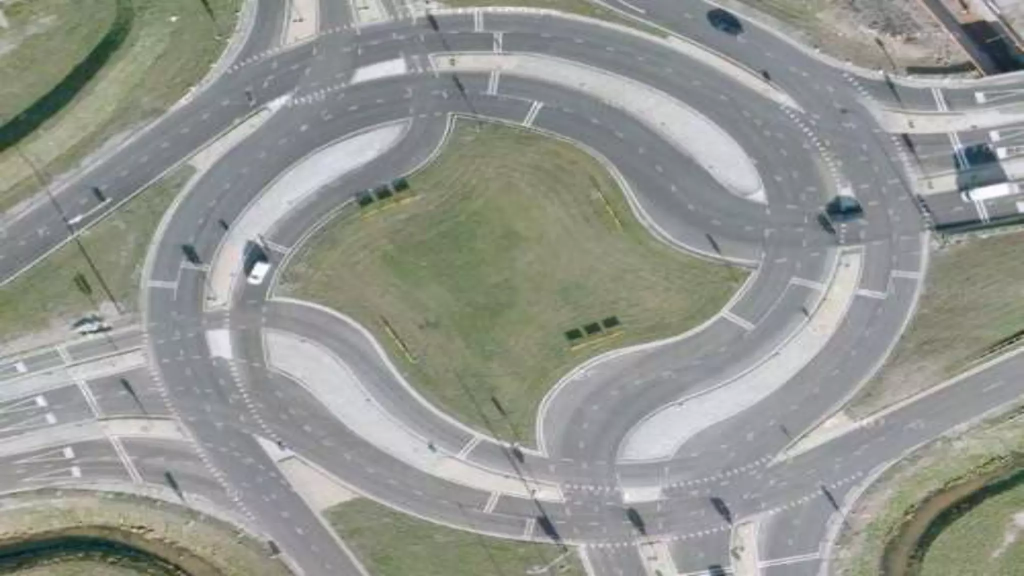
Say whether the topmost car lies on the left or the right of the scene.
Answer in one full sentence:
The topmost car sits on the right side.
